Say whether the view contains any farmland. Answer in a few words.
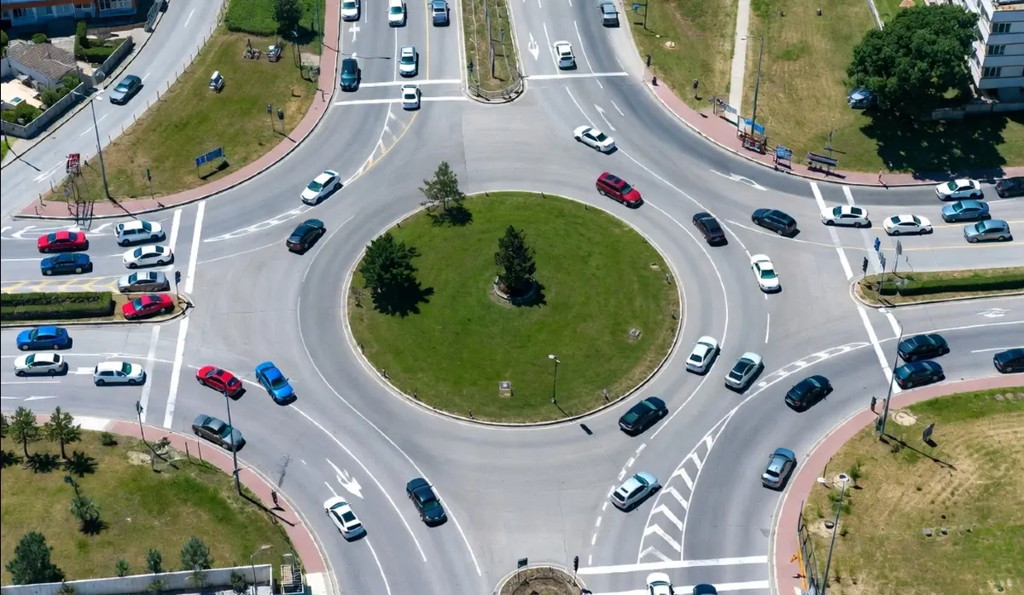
No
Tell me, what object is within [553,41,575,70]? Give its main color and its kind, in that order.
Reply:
white car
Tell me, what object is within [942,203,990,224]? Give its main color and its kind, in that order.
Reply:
blue car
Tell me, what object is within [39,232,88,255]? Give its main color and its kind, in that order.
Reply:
red car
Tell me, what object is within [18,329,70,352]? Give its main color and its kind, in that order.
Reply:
blue car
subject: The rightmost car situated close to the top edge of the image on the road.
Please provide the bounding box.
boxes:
[598,0,618,25]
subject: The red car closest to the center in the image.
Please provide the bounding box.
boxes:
[595,173,644,206]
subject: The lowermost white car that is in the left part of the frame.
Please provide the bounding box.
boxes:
[323,499,367,540]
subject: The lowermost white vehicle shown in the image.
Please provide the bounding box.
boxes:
[648,573,672,595]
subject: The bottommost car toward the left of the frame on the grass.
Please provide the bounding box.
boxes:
[123,296,174,321]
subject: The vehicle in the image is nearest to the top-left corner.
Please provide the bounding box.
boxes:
[109,74,144,104]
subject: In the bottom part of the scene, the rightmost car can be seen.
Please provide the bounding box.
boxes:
[994,349,1024,373]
